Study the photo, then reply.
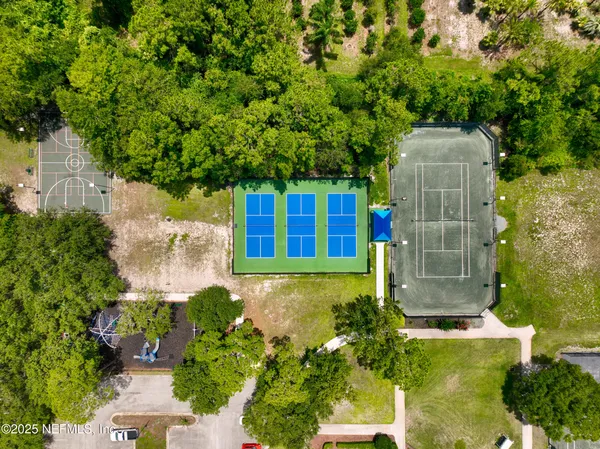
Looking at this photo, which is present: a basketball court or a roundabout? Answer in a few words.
basketball court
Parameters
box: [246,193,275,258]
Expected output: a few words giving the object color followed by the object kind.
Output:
blue sports court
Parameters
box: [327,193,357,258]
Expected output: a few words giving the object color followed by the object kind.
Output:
blue sports court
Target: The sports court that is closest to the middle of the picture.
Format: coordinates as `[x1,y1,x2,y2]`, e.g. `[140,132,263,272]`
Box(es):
[287,193,316,258]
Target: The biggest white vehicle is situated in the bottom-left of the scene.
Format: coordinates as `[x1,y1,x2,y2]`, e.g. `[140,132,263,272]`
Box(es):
[110,428,140,443]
